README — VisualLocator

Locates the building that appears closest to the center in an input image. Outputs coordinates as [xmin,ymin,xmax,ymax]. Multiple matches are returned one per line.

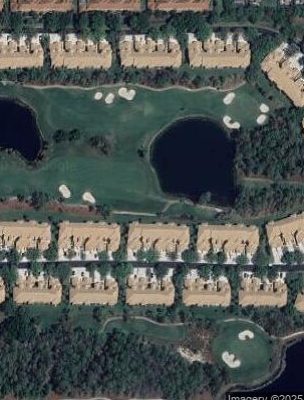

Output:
[127,221,189,250]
